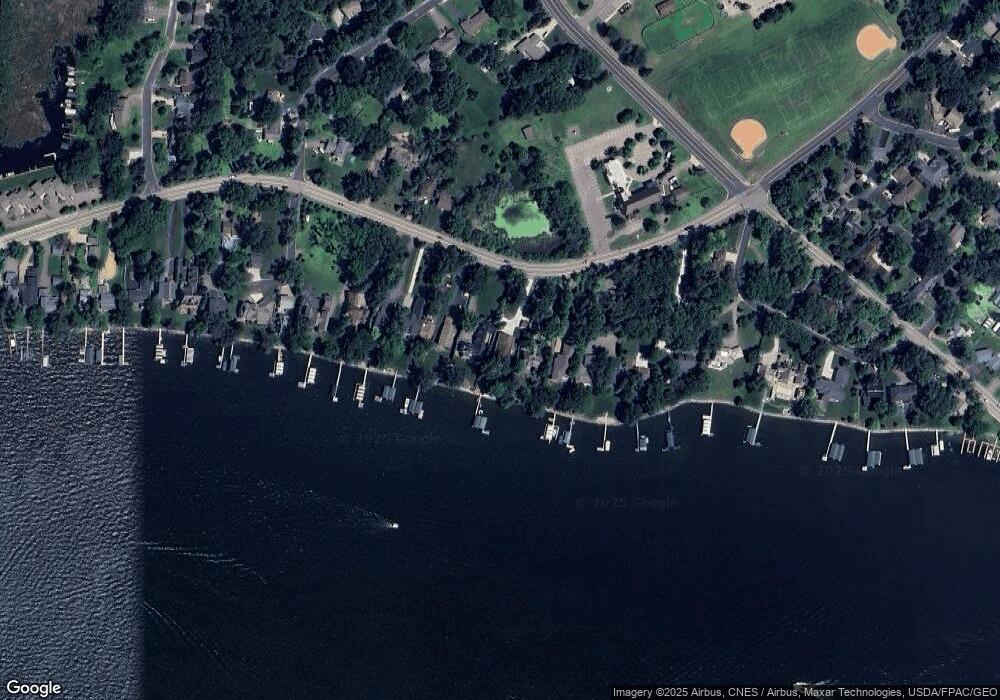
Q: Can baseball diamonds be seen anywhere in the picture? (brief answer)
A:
Yes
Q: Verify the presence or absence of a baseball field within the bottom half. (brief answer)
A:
No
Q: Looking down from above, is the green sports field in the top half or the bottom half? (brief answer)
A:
top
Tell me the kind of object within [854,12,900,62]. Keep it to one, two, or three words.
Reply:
baseball field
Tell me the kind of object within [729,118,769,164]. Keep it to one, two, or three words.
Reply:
baseball field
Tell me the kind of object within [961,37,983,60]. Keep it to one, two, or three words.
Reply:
house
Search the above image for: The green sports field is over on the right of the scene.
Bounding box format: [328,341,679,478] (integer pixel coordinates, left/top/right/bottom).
[652,0,914,183]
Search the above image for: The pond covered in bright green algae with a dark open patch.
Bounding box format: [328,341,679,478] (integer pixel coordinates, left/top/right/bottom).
[494,198,549,238]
